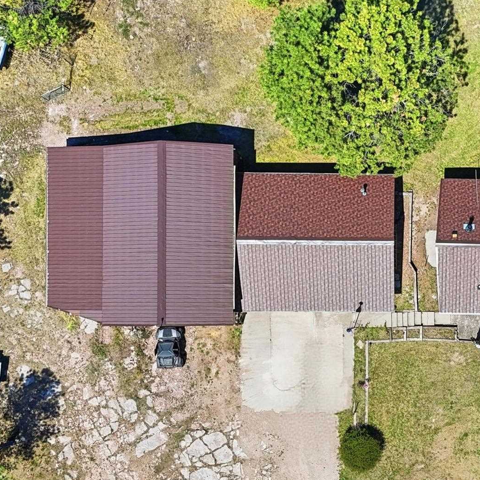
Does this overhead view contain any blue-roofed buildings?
No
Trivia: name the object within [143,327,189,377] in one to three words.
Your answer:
vehicle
